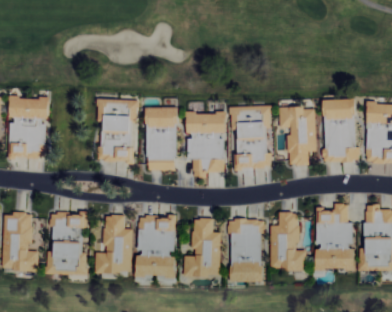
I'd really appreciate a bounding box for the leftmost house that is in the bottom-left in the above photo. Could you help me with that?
[2,212,39,273]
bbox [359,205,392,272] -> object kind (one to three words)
house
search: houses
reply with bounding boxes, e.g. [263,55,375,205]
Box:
[134,214,177,280]
[228,218,266,283]
[366,100,392,164]
[359,205,392,272]
[96,98,139,165]
[94,214,133,277]
[44,210,88,277]
[270,212,307,273]
[279,106,318,166]
[2,212,39,273]
[315,203,357,272]
[229,107,272,174]
[322,99,362,162]
[144,106,178,172]
[183,218,222,278]
[186,112,226,177]
[8,96,50,158]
